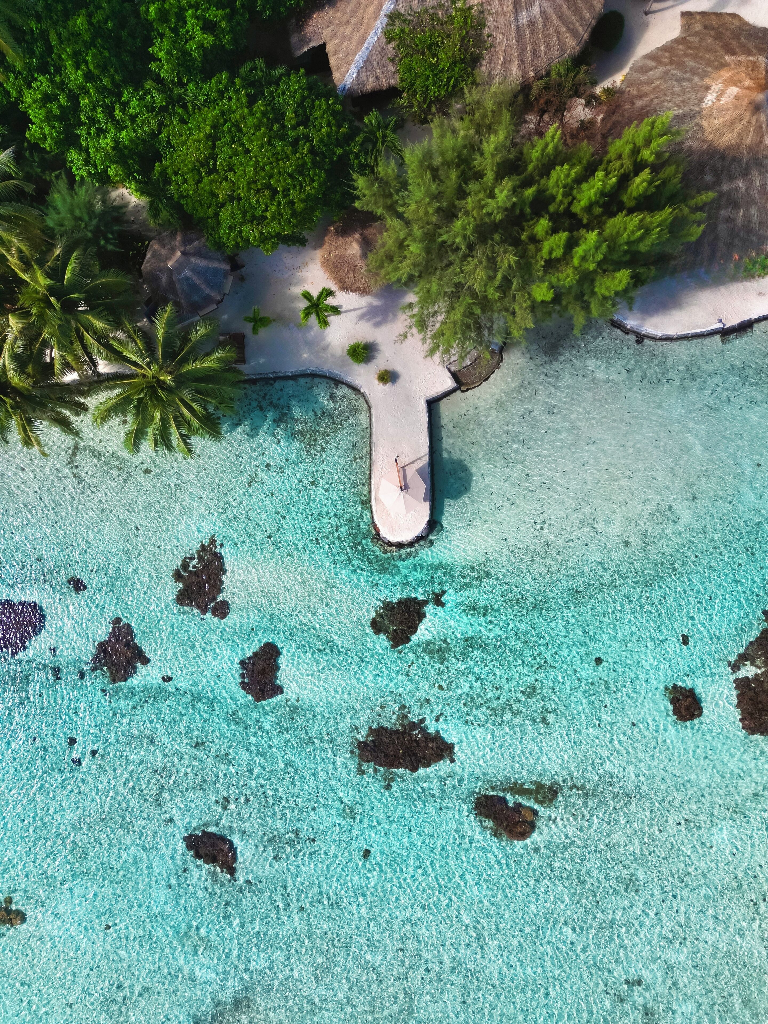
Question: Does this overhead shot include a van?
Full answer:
No, I can see no van in this picture.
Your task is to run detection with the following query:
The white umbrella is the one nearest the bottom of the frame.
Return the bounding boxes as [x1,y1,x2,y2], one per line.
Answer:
[378,456,426,514]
